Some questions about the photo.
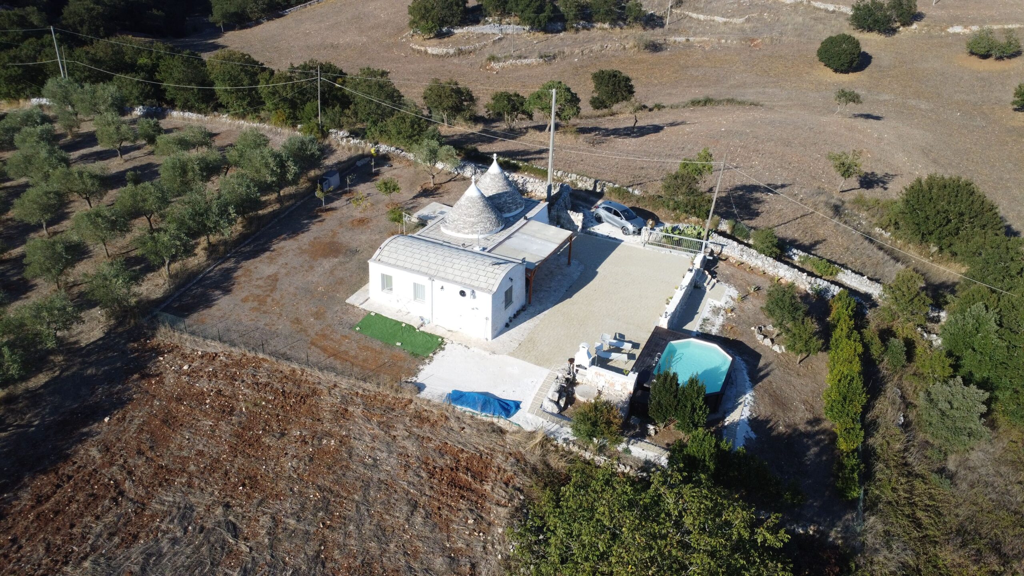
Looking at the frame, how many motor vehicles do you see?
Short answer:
1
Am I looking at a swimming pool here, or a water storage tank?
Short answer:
swimming pool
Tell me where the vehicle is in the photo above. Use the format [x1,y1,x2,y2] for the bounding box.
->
[593,200,646,235]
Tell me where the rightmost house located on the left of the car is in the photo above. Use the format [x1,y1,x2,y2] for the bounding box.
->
[367,153,546,339]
